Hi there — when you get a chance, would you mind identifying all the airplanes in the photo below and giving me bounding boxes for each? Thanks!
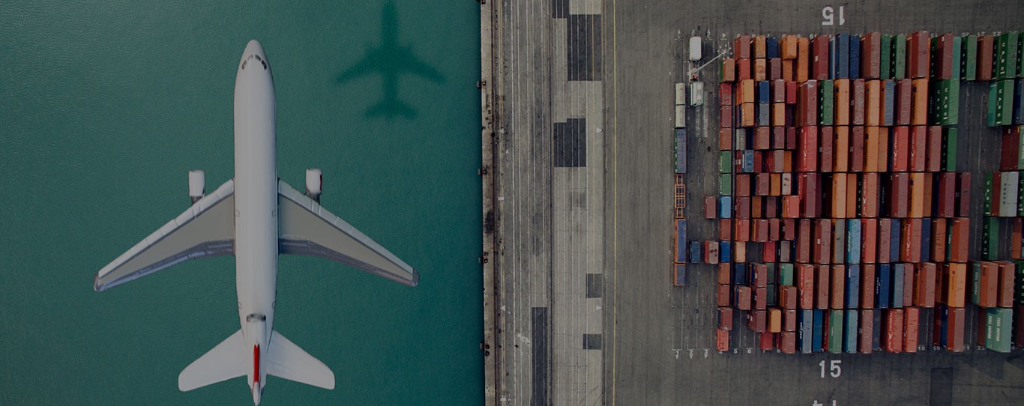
[94,38,419,406]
